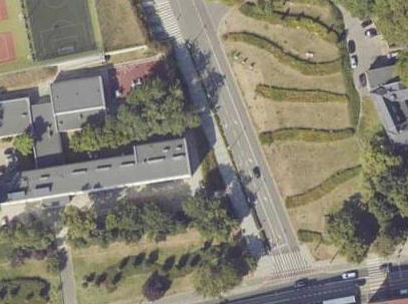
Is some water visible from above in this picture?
No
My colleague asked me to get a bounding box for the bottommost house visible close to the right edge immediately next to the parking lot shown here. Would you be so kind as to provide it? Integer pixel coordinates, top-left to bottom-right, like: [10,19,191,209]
[368,82,408,146]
